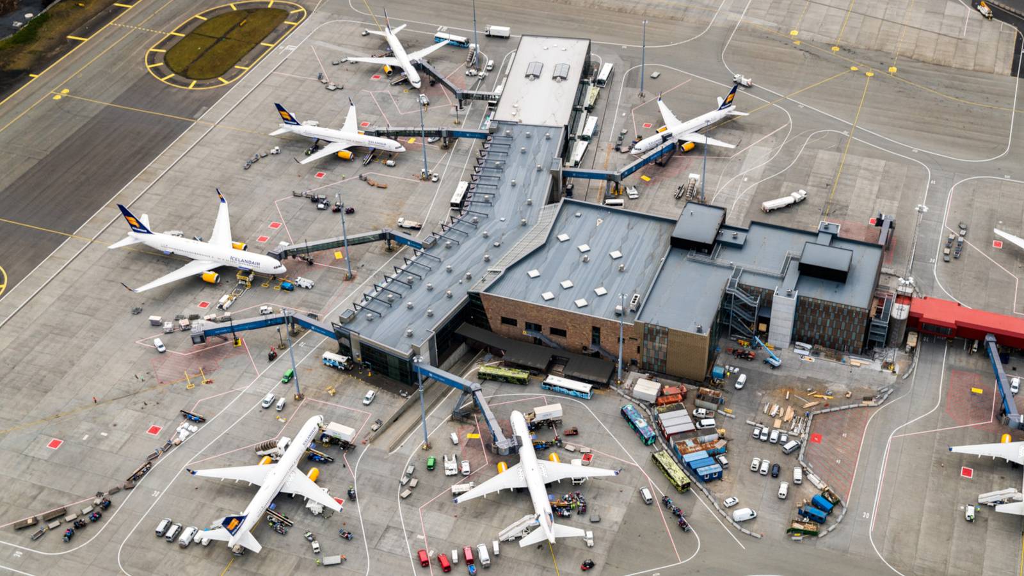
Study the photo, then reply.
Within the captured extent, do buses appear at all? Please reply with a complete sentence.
Yes, a bus is visible in the scene.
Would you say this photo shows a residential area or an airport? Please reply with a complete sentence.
It's an airport.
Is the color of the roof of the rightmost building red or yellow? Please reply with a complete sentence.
In this view, the roof of the rightmost building is red.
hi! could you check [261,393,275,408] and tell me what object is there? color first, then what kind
white car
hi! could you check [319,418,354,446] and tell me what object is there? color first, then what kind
white truck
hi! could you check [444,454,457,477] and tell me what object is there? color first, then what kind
white vehicle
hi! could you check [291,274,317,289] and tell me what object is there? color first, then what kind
white vehicle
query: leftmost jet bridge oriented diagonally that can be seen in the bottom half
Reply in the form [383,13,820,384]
[418,362,524,462]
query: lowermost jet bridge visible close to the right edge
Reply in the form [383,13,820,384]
[978,332,1024,444]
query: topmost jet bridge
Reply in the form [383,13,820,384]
[407,59,499,113]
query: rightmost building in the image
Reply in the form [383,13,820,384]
[915,296,1024,354]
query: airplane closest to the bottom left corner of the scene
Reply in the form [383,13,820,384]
[191,416,343,549]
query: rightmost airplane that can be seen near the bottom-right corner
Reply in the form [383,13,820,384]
[947,432,1024,517]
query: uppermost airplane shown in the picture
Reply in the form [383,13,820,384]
[347,14,449,93]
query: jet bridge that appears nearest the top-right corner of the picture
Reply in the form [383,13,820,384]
[869,219,894,255]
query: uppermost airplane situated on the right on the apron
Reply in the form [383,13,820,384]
[628,88,747,157]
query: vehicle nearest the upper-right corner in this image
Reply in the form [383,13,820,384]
[978,3,990,15]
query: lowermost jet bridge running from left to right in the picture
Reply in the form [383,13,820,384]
[189,309,337,344]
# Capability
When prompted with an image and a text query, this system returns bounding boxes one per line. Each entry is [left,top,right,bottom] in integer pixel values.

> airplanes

[947,432,1024,517]
[628,88,747,157]
[191,416,343,549]
[455,410,619,544]
[111,194,280,294]
[347,14,449,93]
[273,99,404,163]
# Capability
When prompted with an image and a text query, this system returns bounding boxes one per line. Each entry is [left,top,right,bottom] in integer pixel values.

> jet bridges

[364,127,487,152]
[407,59,499,113]
[418,362,524,462]
[869,219,894,255]
[269,226,422,265]
[565,136,679,194]
[189,309,337,344]
[978,332,1024,444]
